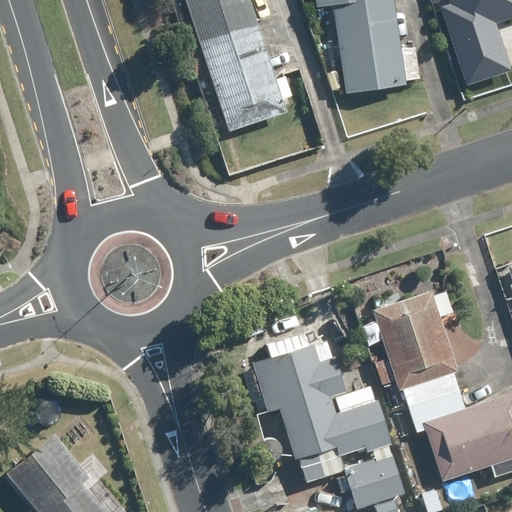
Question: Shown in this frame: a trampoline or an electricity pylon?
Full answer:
Looking from above, you can make out a trampoline.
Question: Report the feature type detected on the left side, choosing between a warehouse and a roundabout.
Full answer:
Visible on the left side is a roundabout.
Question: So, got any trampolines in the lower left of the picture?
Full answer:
Yes, you'll find a trampoline in the lower left of the picture.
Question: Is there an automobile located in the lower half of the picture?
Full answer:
Yes, I can see an automobile in the lower half of the picture.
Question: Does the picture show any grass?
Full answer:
Yes, grass shows up in the scene.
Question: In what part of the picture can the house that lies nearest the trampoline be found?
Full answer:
The house that lies nearest the trampoline appears toward the bottom left of the photo.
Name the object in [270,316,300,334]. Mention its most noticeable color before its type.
white car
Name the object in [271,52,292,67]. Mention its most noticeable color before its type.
white car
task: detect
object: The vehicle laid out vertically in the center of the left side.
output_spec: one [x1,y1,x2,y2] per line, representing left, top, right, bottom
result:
[64,190,77,218]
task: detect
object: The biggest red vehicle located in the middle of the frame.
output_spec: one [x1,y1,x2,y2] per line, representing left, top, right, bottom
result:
[212,212,238,226]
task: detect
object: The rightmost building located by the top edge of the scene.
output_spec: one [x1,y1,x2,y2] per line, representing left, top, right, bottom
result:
[442,0,512,86]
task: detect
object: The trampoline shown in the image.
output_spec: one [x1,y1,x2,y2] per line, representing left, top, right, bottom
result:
[36,401,60,426]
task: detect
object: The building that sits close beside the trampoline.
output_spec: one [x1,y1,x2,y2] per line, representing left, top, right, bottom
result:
[6,435,106,512]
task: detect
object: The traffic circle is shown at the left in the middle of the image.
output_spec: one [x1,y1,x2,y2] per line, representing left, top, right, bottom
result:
[88,230,174,316]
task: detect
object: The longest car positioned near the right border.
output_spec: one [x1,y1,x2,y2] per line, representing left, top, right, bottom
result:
[462,384,492,404]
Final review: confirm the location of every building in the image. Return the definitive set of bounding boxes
[6,435,106,512]
[186,0,288,131]
[422,490,442,512]
[252,334,391,482]
[364,292,458,390]
[376,360,391,384]
[316,0,407,93]
[442,0,512,86]
[424,393,512,481]
[346,446,405,512]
